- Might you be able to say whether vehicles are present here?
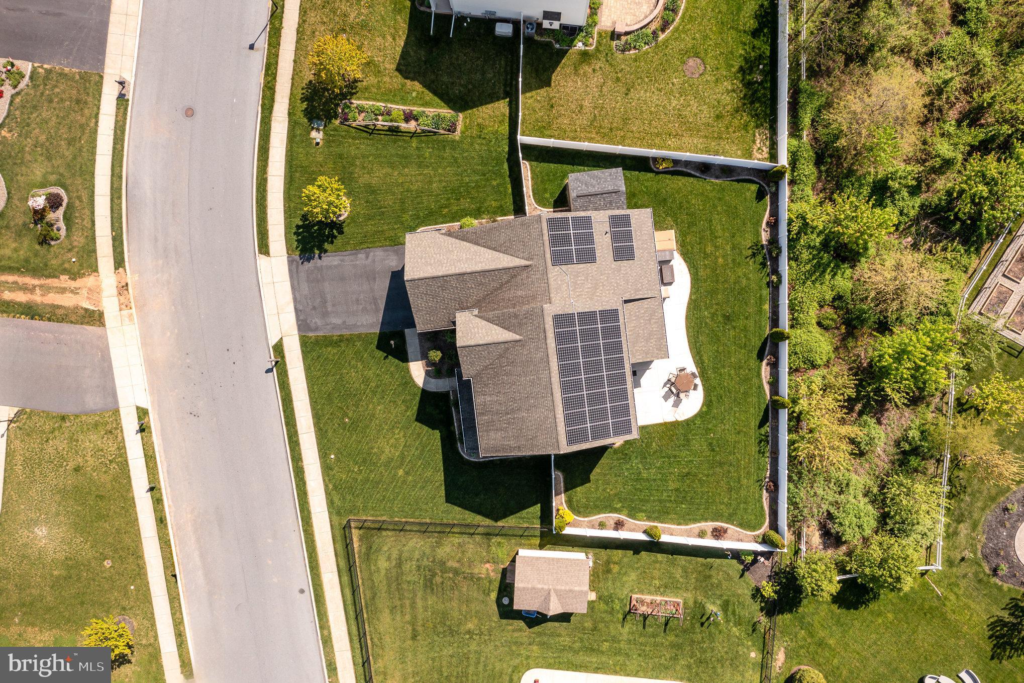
No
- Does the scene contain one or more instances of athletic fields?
No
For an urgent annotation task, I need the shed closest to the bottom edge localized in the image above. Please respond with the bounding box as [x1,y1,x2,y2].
[513,549,589,618]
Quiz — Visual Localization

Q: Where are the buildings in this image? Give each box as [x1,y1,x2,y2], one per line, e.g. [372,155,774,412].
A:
[404,208,669,457]
[430,0,594,38]
[513,549,589,618]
